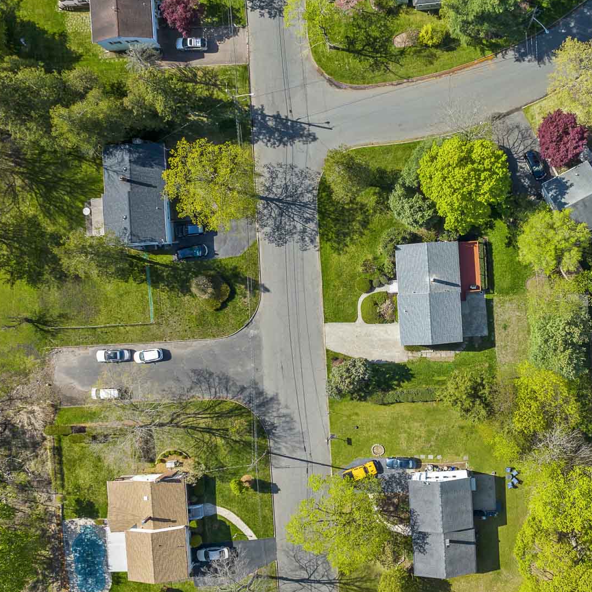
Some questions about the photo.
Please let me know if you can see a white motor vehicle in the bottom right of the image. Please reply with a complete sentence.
No, the scene shows no white motor vehicle in the bottom right of the image.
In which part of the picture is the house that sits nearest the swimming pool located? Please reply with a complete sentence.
The house that sits nearest the swimming pool is in the bottom left part of the image.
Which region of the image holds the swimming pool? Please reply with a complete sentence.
Look in the bottom left portion of the view to spot the swimming pool.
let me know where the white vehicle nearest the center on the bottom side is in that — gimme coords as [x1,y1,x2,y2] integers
[133,347,166,363]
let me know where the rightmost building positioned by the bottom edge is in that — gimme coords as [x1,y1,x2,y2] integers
[408,471,477,580]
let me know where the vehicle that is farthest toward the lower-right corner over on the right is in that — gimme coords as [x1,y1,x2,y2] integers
[385,455,419,472]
